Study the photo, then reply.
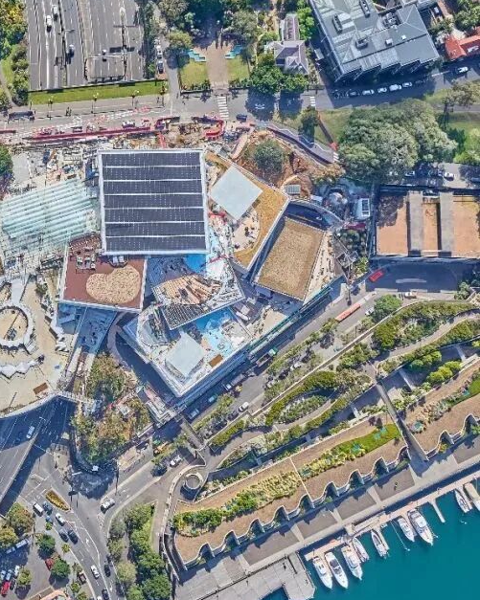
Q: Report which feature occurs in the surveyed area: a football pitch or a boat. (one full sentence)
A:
Of the two, only a boat appears.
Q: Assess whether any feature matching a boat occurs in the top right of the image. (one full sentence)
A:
No, I can find no boat in the top right of the image.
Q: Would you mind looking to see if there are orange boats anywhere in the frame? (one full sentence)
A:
No, no orange boat is visible in the scene.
